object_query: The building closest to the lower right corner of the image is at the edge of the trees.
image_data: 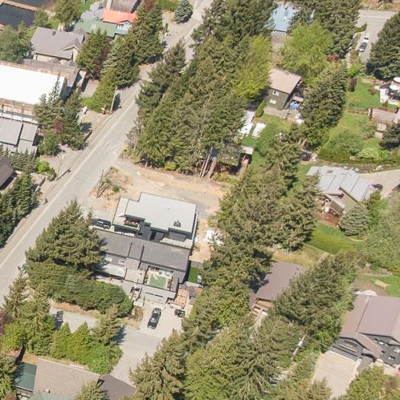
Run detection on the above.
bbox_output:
[326,294,400,371]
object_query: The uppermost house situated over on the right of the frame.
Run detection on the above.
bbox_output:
[264,5,301,45]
